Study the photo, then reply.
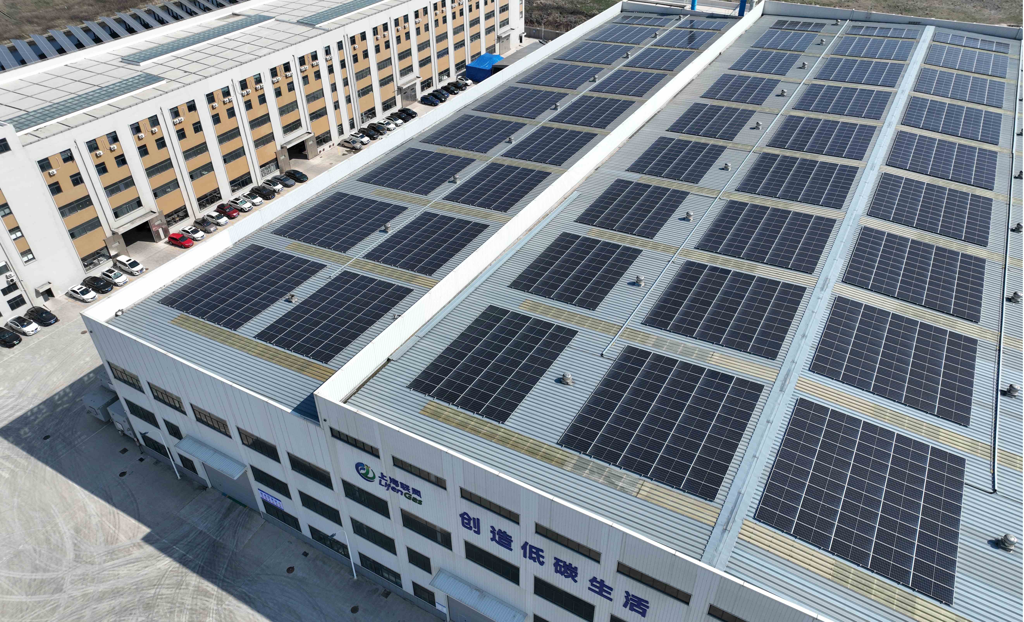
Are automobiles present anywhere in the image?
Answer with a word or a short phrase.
Yes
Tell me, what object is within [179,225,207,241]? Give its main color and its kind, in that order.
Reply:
white car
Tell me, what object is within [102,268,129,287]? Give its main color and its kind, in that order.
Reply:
white car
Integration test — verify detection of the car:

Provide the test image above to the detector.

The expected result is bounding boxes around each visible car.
[0,326,22,347]
[179,225,207,241]
[250,186,276,200]
[239,191,265,206]
[428,92,447,102]
[376,120,396,132]
[262,179,285,193]
[284,170,309,183]
[397,108,418,118]
[454,75,473,86]
[102,268,129,287]
[68,283,98,302]
[419,94,439,106]
[228,196,254,213]
[214,202,240,219]
[27,307,58,327]
[191,216,218,232]
[391,112,412,123]
[447,81,467,90]
[203,210,230,226]
[440,85,459,95]
[169,233,194,250]
[339,138,361,150]
[10,314,42,335]
[271,174,297,188]
[348,131,370,144]
[85,276,114,294]
[116,254,146,275]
